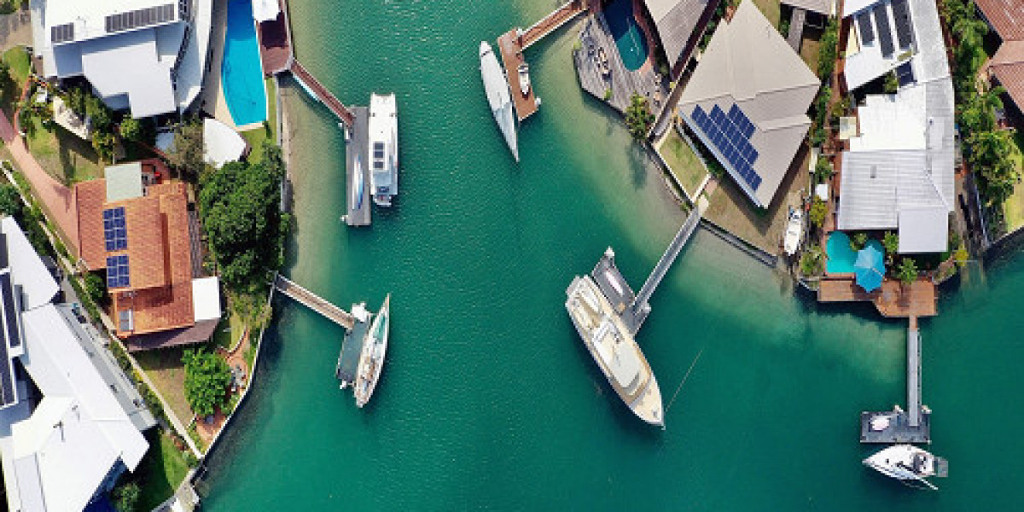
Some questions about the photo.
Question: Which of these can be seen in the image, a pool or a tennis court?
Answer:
pool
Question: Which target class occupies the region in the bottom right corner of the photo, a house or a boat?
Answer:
boat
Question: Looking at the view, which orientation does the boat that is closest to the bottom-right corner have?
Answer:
horizontally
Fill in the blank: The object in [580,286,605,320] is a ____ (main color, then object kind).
white boat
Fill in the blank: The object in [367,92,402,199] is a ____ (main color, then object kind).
white boat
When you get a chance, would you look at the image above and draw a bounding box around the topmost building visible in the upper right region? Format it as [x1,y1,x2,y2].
[777,0,825,37]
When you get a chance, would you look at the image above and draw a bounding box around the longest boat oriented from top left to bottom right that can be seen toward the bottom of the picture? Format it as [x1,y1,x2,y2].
[563,276,668,433]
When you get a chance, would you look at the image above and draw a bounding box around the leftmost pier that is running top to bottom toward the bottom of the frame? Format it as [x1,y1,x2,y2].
[335,304,373,387]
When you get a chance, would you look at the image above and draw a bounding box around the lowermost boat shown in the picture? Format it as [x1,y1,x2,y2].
[863,446,946,488]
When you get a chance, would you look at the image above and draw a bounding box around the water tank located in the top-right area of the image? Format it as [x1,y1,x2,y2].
[834,117,855,141]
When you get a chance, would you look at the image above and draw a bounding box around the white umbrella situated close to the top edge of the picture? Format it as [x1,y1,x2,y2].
[251,0,284,21]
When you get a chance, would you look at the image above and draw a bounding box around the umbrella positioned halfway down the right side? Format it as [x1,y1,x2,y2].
[846,249,886,288]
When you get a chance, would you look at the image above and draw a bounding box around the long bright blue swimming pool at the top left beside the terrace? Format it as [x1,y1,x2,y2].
[219,0,270,130]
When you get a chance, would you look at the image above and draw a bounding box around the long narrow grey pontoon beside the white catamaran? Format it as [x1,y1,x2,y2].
[341,105,371,226]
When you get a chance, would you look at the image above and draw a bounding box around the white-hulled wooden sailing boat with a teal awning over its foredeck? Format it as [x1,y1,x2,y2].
[354,295,391,408]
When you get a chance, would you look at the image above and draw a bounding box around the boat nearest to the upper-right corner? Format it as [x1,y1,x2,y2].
[784,206,802,254]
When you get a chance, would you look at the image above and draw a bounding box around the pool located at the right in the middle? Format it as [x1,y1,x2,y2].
[823,229,888,276]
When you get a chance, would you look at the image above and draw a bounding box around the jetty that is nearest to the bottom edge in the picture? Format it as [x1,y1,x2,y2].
[859,405,933,443]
